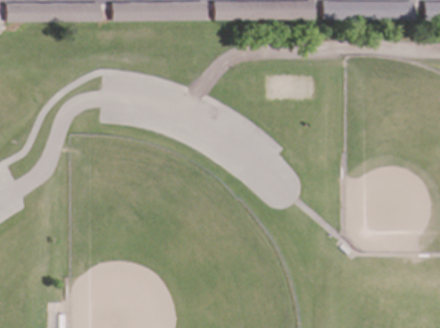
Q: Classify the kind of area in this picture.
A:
sports ground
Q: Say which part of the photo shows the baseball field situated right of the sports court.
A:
right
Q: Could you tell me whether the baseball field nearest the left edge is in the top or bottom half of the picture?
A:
bottom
